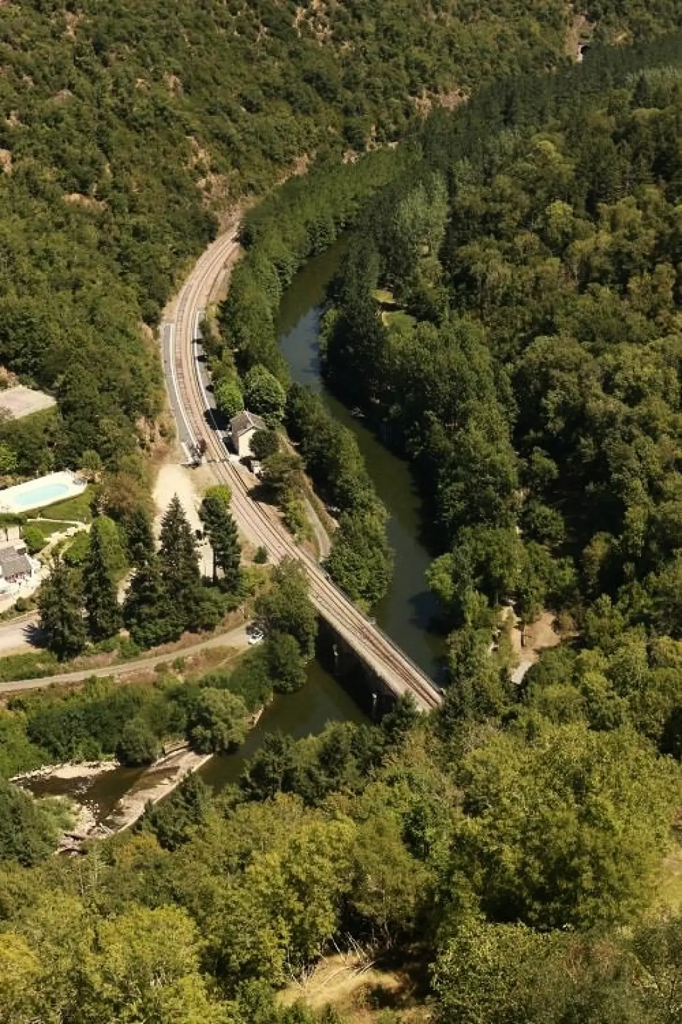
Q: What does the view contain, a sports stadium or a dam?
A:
dam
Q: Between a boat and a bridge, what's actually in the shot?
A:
bridge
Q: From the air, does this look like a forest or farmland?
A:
forest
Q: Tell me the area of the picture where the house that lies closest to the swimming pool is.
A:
left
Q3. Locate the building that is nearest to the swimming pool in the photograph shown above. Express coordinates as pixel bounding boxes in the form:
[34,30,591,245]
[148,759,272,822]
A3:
[0,529,30,581]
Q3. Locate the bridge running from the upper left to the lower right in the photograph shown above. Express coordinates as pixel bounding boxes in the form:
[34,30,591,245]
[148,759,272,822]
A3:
[286,568,449,705]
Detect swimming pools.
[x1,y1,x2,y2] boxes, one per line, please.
[0,471,87,514]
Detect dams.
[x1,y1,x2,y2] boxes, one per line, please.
[117,751,215,837]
